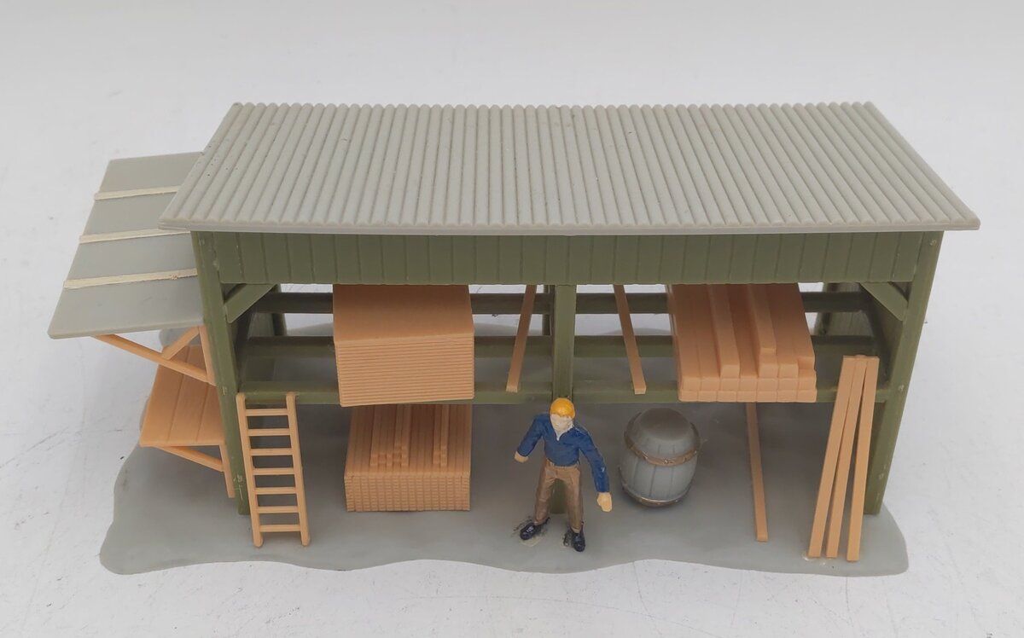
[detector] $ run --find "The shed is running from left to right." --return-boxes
[49,100,979,515]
